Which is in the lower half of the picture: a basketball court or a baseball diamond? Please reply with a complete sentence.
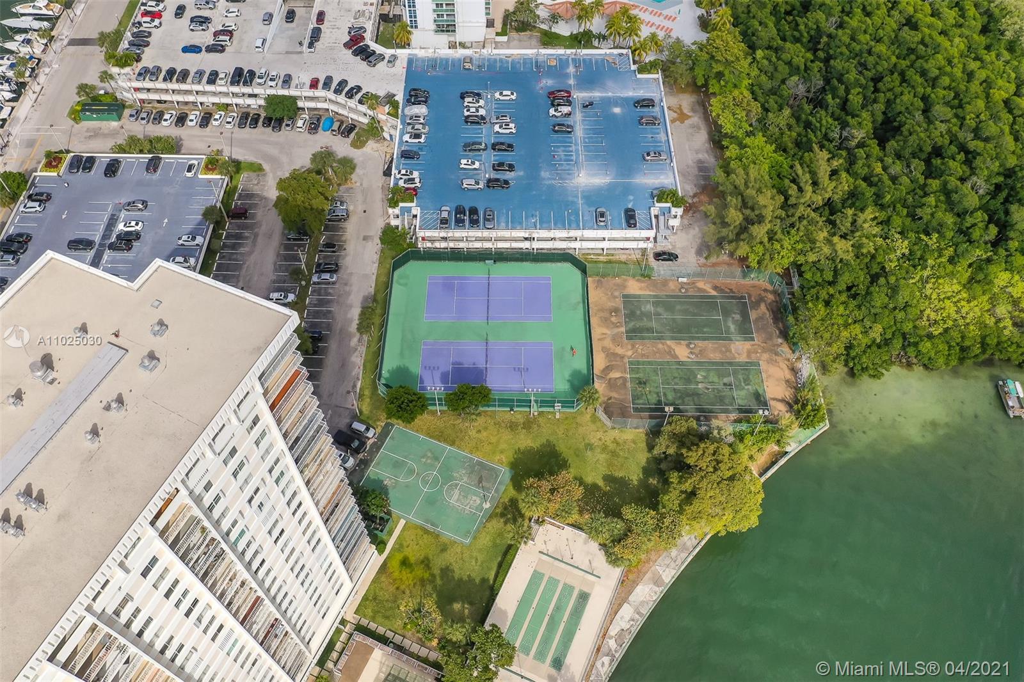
You can see a basketball court in the lower half of the picture.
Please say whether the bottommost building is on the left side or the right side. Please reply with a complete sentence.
The bottommost building appears in the left half of the scene.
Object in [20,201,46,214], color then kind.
white vehicle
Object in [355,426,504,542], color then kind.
green basketball court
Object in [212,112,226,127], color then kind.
white car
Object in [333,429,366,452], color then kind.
black vehicle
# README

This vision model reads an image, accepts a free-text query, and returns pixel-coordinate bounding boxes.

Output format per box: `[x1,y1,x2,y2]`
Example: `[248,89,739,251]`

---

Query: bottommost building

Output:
[0,250,383,682]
